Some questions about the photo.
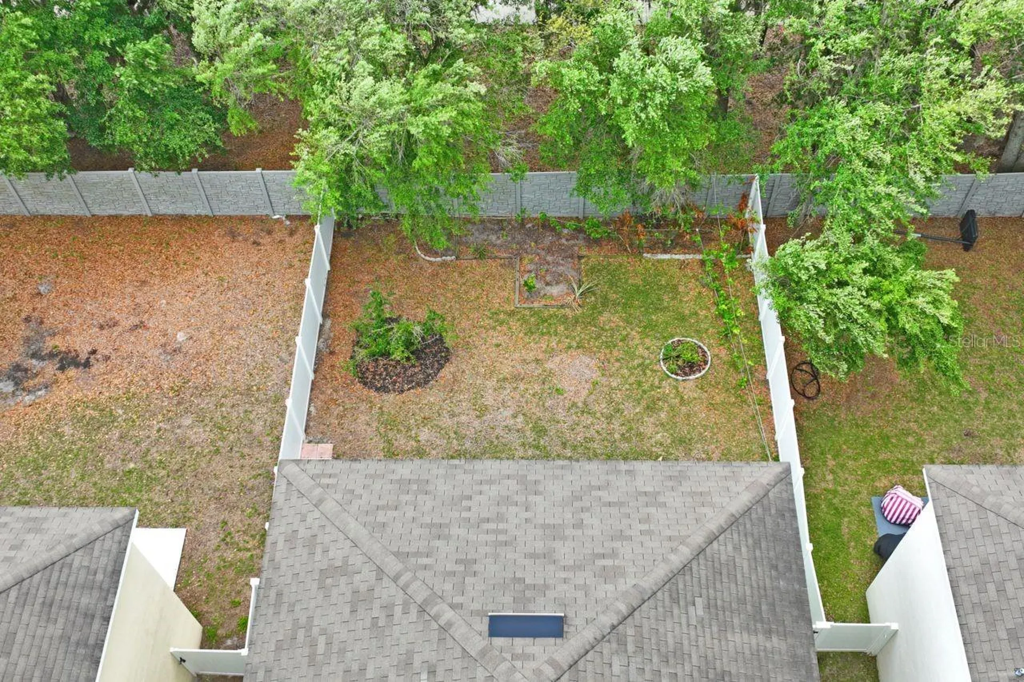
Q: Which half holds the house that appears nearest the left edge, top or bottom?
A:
bottom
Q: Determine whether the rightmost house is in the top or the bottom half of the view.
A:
bottom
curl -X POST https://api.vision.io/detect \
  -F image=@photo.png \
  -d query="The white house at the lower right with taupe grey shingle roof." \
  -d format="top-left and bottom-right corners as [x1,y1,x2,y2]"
[867,462,1024,682]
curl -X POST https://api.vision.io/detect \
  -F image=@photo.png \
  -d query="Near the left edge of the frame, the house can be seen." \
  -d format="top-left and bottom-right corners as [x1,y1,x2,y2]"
[0,505,198,682]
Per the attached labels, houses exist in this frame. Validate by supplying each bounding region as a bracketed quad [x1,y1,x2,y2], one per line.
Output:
[243,457,822,682]
[867,462,1024,682]
[0,505,198,682]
